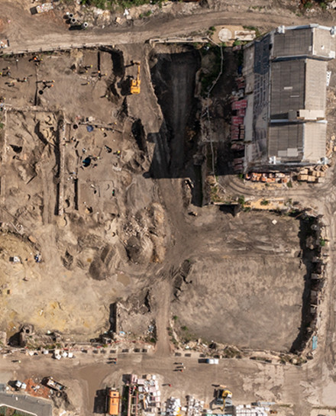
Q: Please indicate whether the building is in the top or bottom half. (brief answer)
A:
top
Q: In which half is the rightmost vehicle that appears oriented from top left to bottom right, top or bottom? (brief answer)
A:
bottom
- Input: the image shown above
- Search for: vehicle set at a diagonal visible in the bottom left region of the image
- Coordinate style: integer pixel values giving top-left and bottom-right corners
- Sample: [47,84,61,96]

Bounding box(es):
[42,375,68,396]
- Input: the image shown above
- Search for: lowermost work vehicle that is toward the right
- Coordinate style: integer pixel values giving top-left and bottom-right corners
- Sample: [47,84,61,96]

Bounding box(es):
[213,387,231,414]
